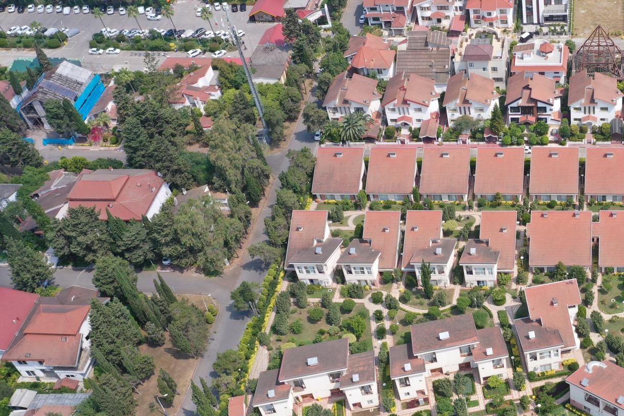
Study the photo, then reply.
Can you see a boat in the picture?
No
